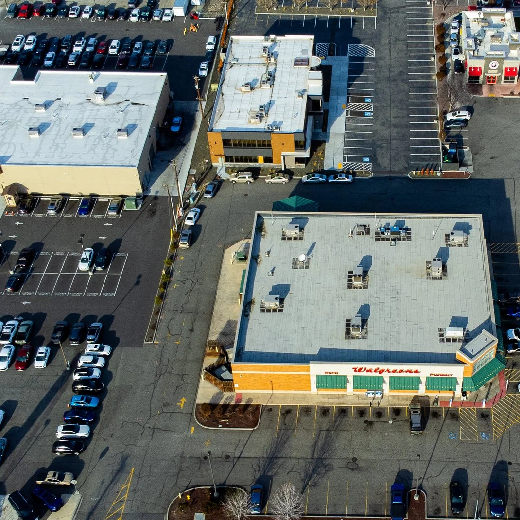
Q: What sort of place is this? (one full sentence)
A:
The picture captures a parking lot.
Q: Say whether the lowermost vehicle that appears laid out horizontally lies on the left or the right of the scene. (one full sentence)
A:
The lowermost vehicle that appears laid out horizontally is on the left side of the image.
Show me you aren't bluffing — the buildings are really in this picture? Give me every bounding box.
[208,34,328,171]
[0,68,172,198]
[232,190,507,401]
[461,5,520,84]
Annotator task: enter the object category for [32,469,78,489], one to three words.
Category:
vehicle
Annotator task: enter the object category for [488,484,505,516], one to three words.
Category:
car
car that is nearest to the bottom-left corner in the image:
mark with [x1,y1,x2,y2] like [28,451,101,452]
[11,492,37,520]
